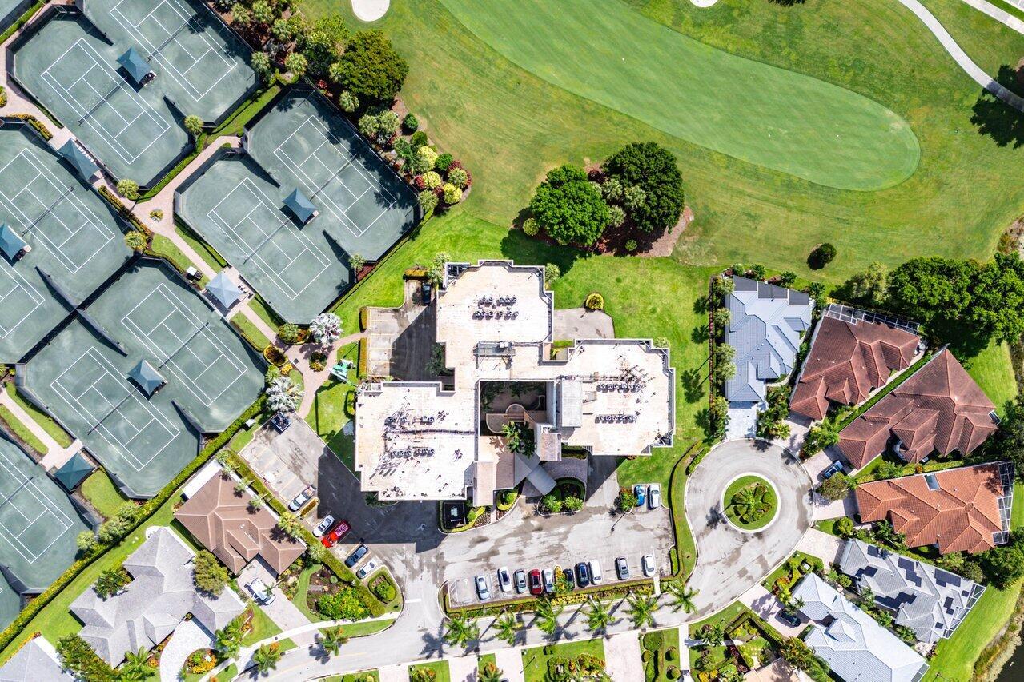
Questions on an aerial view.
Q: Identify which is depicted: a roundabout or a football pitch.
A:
roundabout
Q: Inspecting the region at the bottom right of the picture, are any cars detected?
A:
Yes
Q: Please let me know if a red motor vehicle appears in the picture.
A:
Yes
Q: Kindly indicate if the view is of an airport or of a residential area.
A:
residential area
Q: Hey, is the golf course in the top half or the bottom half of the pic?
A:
top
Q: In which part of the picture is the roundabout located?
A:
bottom right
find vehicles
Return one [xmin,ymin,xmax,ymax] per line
[185,267,201,279]
[589,558,603,585]
[575,561,589,588]
[289,487,316,511]
[562,563,575,590]
[314,515,336,536]
[514,569,526,593]
[476,574,491,600]
[421,281,432,306]
[821,458,846,479]
[648,483,660,508]
[243,576,273,603]
[323,520,352,548]
[634,484,645,508]
[643,553,655,577]
[776,607,802,628]
[497,566,513,593]
[543,568,555,593]
[530,569,542,595]
[346,544,369,567]
[616,556,628,580]
[357,558,379,577]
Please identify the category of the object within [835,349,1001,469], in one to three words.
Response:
house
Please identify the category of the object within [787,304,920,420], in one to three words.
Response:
house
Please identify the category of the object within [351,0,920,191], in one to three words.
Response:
golf course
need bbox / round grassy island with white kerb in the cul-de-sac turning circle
[721,473,781,533]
